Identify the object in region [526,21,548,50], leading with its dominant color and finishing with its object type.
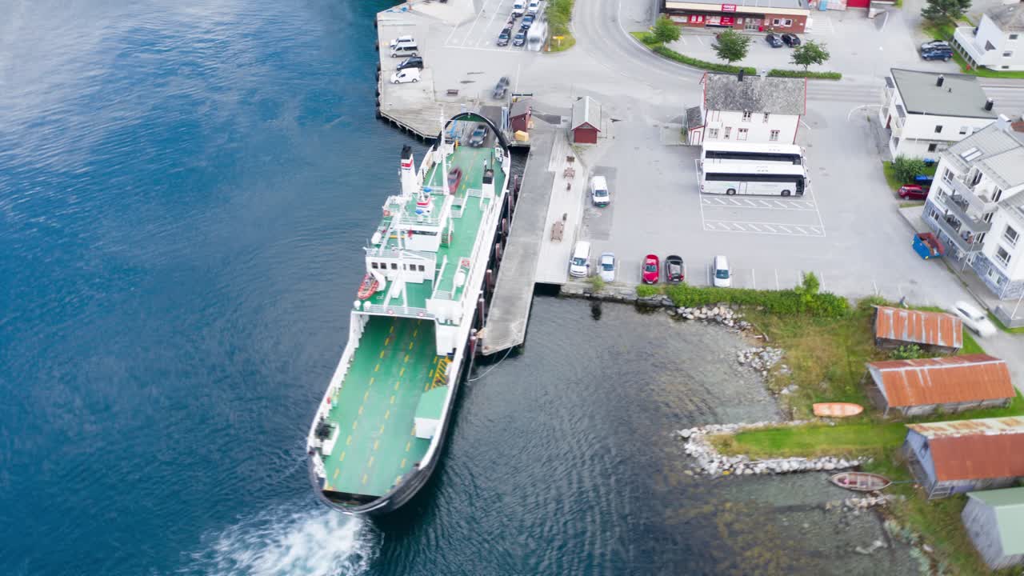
white camper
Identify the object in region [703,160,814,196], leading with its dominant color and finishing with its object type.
white bus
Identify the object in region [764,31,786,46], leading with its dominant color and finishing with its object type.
gray car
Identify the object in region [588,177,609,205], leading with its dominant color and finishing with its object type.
white vehicle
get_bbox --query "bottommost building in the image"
[960,486,1024,564]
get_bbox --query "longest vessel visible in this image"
[308,105,509,522]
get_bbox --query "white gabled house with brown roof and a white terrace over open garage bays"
[941,2,1024,68]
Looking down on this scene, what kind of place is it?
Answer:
port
